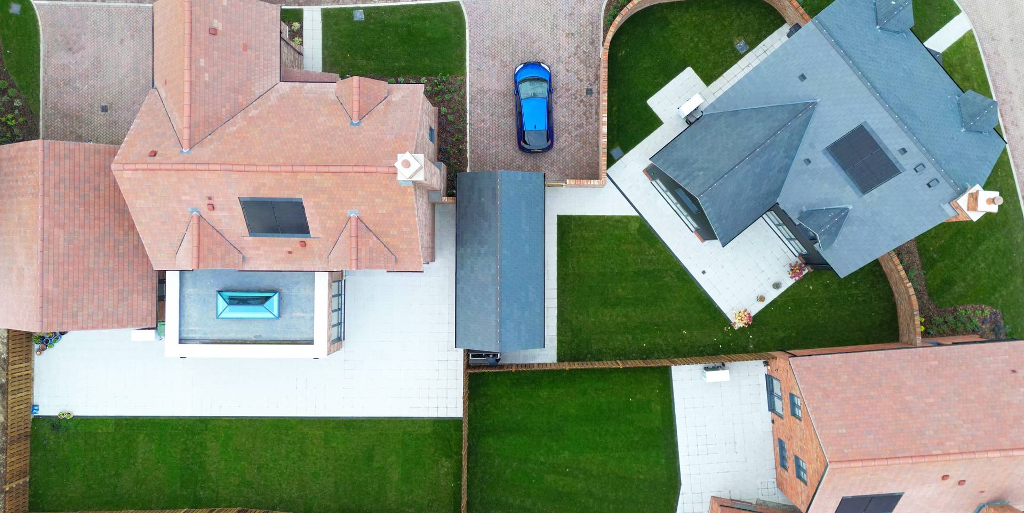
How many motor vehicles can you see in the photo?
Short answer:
1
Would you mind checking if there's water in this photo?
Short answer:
No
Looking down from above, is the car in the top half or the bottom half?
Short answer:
top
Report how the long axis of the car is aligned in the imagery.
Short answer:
from top to bottom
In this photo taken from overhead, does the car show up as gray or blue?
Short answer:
blue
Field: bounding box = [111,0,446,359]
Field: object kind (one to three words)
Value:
house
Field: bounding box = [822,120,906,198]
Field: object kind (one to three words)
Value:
solar array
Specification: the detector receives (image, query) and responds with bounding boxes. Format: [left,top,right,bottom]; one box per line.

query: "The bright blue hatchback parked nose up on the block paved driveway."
[510,62,555,155]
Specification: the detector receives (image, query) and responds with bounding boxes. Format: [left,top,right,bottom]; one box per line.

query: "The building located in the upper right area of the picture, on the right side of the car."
[642,0,1007,280]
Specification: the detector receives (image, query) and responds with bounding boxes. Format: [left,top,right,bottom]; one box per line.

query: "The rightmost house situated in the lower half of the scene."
[766,334,1024,513]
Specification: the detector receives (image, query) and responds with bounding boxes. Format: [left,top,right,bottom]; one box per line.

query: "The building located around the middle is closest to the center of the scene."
[454,170,546,351]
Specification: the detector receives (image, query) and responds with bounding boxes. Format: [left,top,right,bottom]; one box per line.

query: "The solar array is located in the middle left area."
[238,197,311,238]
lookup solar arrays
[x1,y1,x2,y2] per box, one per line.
[822,120,906,198]
[238,197,311,238]
[836,494,904,513]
